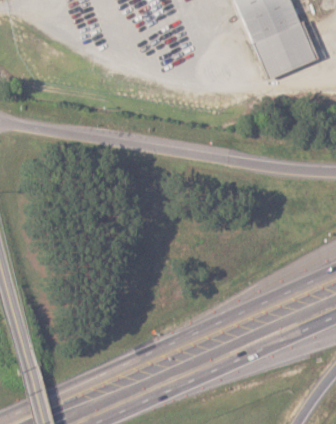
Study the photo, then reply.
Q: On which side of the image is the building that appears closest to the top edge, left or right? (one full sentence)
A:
The building that appears closest to the top edge is on the right side of the image.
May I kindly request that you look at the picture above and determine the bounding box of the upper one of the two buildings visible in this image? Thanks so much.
[232,0,302,42]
